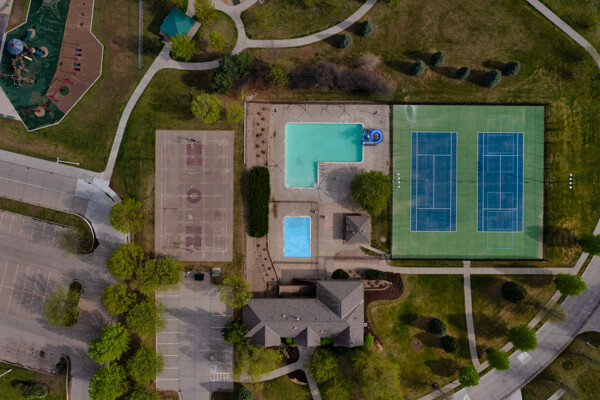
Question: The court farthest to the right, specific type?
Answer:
tennis court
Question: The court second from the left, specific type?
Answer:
tennis court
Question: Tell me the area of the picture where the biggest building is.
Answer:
bottom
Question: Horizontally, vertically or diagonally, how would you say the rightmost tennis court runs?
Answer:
vertically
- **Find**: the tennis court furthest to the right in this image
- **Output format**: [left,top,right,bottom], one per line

[466,105,544,260]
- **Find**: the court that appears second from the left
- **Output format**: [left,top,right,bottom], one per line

[392,105,467,260]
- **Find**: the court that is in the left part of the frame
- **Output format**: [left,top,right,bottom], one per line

[155,130,234,261]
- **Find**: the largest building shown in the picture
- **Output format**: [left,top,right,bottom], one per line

[243,280,366,346]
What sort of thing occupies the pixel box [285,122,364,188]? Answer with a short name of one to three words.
swimming pool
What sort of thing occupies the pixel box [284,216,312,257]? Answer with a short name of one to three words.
swimming pool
